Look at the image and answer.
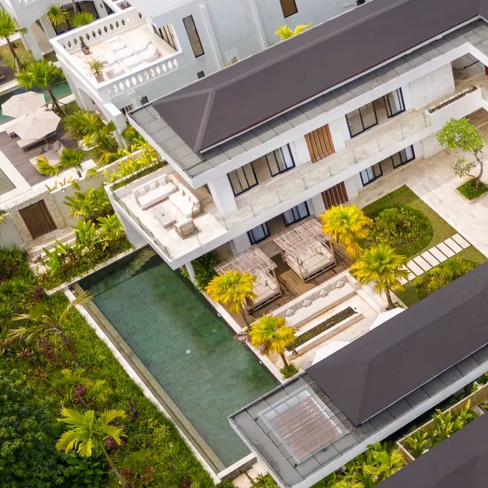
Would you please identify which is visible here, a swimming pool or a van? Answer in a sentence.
The one in the frame is a swimming pool.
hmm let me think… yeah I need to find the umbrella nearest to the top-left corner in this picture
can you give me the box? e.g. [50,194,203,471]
[0,91,50,121]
